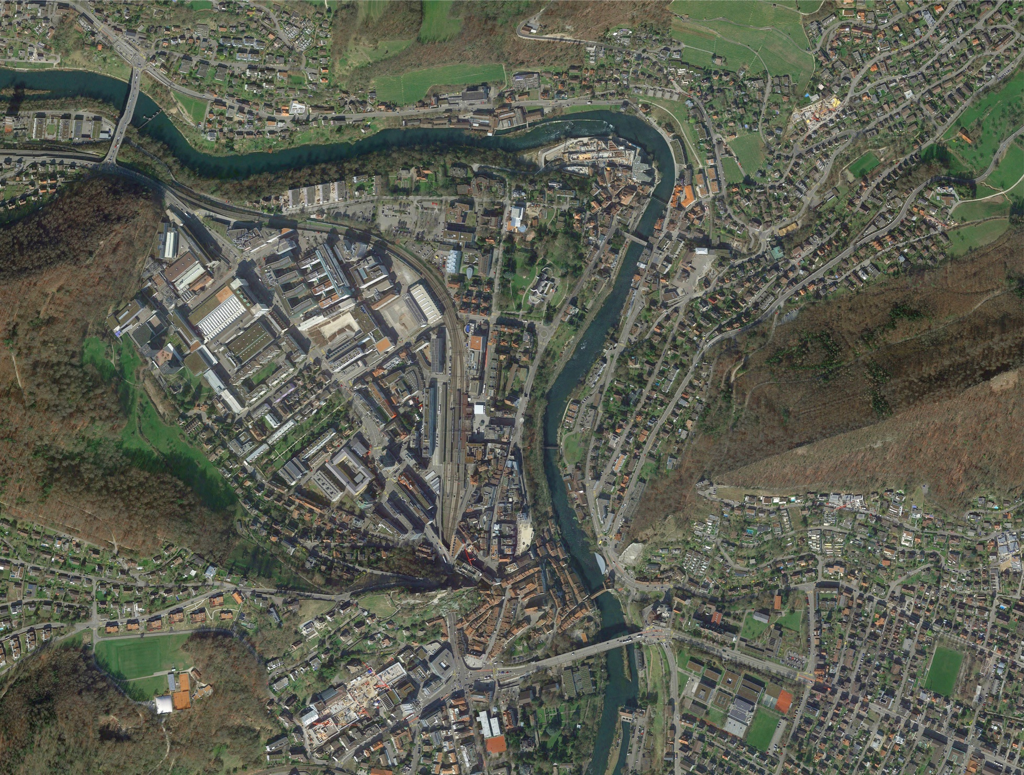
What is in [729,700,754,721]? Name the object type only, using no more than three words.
building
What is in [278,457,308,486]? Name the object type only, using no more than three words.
building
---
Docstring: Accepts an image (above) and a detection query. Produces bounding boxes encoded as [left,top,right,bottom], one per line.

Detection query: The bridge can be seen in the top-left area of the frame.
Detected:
[107,66,140,163]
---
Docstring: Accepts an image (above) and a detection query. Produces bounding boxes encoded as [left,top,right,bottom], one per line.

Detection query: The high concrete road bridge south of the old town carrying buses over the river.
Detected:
[520,629,648,672]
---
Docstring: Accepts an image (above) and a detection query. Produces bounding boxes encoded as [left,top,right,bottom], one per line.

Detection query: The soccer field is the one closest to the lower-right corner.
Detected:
[925,647,964,696]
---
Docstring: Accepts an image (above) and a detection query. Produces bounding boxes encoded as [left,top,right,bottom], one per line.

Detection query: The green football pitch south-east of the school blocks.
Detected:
[747,708,779,751]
